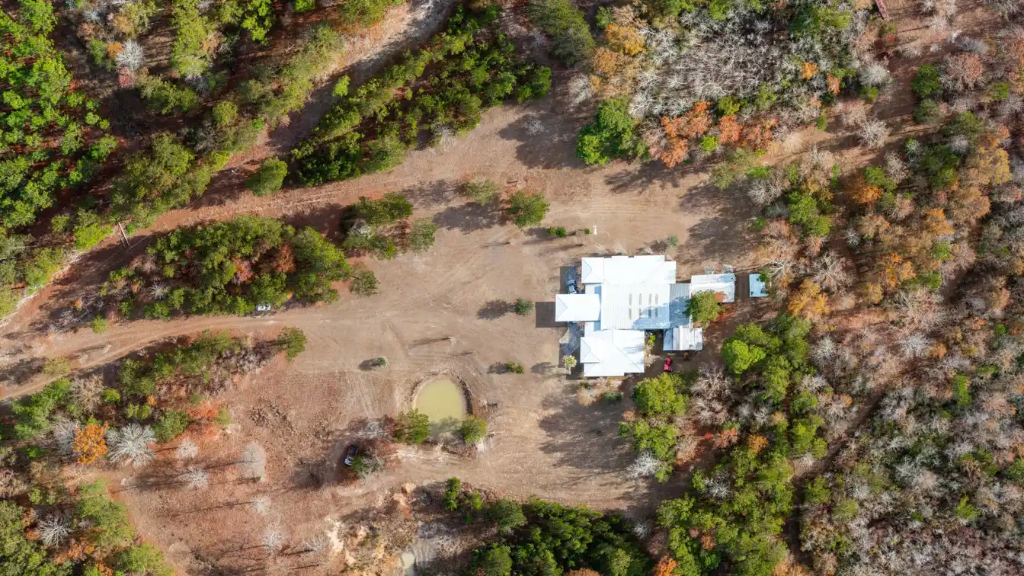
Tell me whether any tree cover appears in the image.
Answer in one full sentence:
Yes, there's tree cover in this view.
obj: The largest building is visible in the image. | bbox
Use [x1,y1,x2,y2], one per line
[555,255,692,377]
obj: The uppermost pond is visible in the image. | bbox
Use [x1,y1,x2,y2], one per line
[416,380,467,444]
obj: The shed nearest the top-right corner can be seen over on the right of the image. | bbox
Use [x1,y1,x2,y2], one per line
[749,274,768,298]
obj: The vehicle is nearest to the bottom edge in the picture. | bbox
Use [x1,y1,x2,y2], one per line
[344,443,358,466]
